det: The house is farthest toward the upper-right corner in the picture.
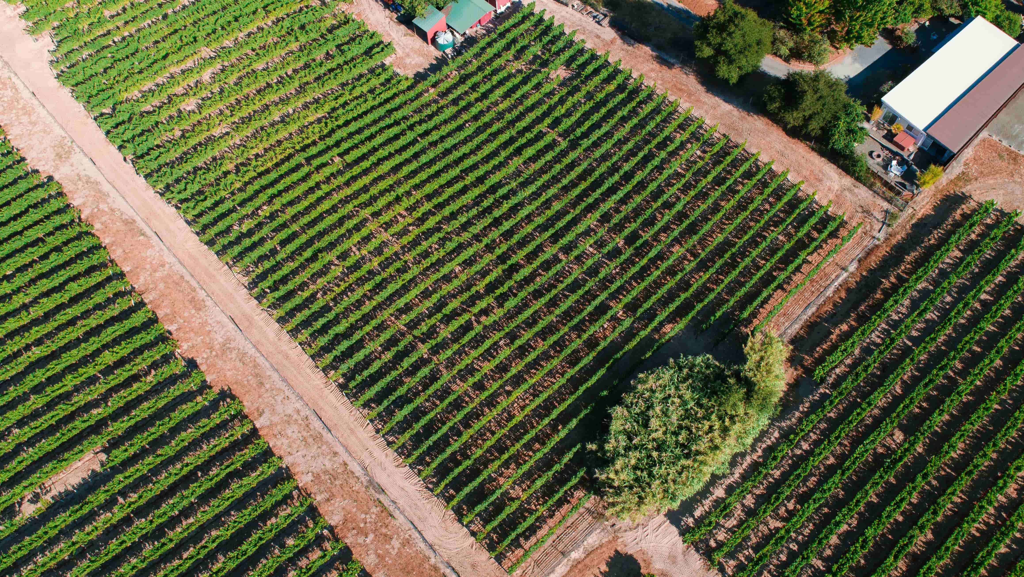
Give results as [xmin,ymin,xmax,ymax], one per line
[878,14,1024,159]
